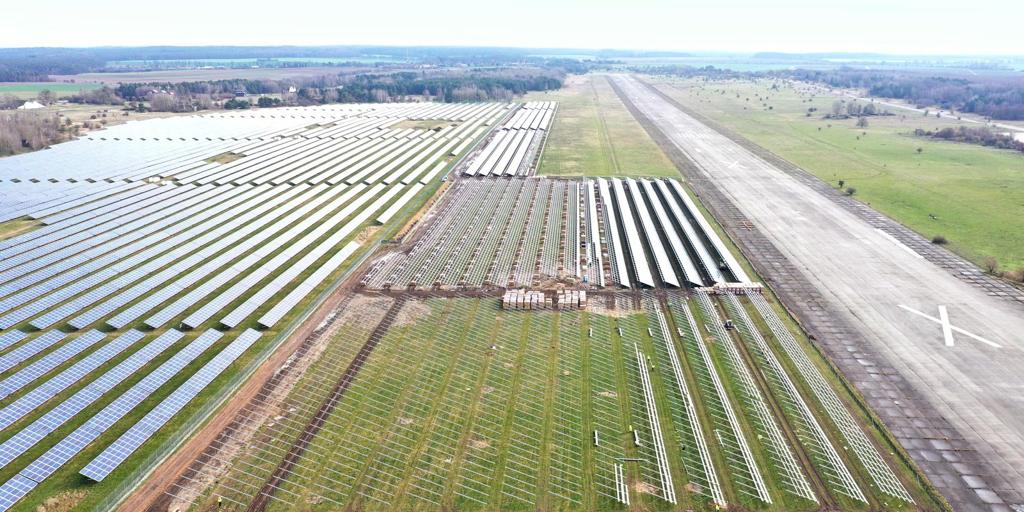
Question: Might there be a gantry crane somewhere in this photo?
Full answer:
No, no gantry crane is visible in the view.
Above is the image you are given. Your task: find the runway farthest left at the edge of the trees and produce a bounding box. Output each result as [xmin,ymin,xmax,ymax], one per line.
[612,77,739,143]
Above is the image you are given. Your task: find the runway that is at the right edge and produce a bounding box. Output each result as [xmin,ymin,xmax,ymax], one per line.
[615,79,1024,497]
